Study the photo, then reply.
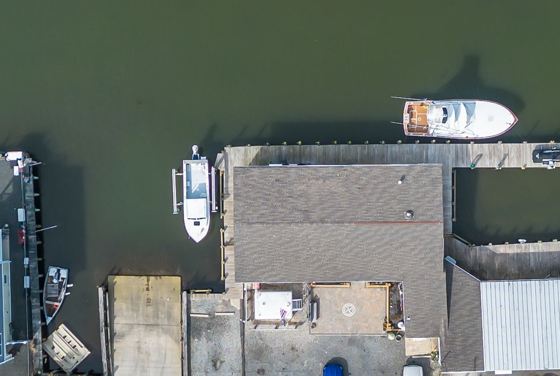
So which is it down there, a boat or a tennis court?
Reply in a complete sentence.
The one in the frame is a boat.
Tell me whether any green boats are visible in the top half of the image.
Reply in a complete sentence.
No, I can find no green boat in the top half of the image.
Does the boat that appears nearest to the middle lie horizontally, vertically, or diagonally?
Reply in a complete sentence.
Seen from above, the boat that appears nearest to the middle lies vertically.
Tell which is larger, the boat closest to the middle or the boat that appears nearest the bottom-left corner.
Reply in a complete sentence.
The boat closest to the middle covers a greater area than the boat that appears nearest the bottom-left corner.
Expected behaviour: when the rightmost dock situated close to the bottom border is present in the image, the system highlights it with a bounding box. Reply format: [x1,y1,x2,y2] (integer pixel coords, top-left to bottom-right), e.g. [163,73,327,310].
[45,324,91,370]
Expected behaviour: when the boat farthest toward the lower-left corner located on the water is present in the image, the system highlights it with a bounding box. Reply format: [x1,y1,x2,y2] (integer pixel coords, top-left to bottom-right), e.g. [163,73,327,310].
[44,264,73,321]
